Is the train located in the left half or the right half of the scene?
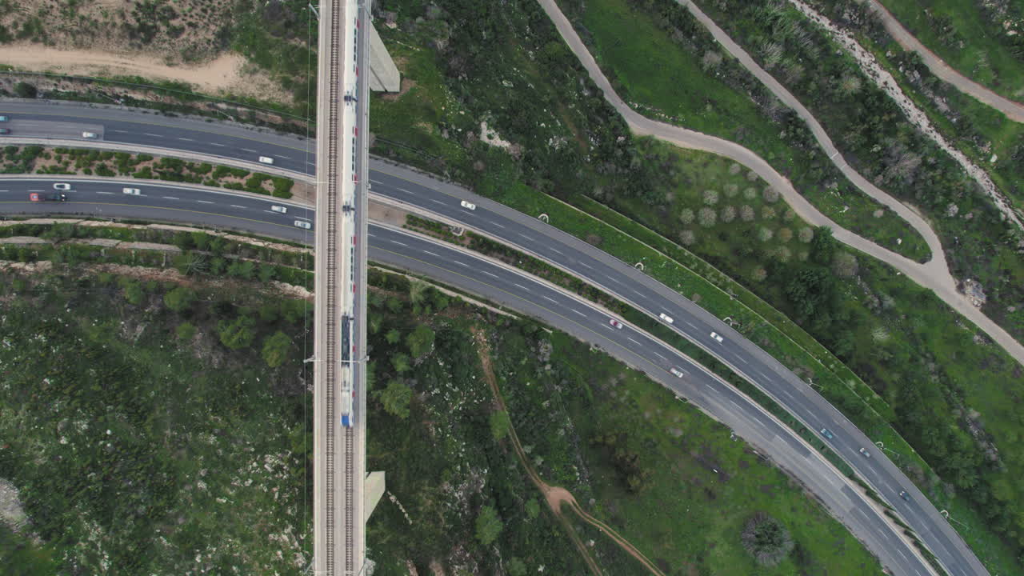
left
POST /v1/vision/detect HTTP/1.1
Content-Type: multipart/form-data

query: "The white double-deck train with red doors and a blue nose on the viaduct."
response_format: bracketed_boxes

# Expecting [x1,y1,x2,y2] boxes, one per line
[340,0,362,425]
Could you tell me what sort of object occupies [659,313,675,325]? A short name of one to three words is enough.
vehicle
